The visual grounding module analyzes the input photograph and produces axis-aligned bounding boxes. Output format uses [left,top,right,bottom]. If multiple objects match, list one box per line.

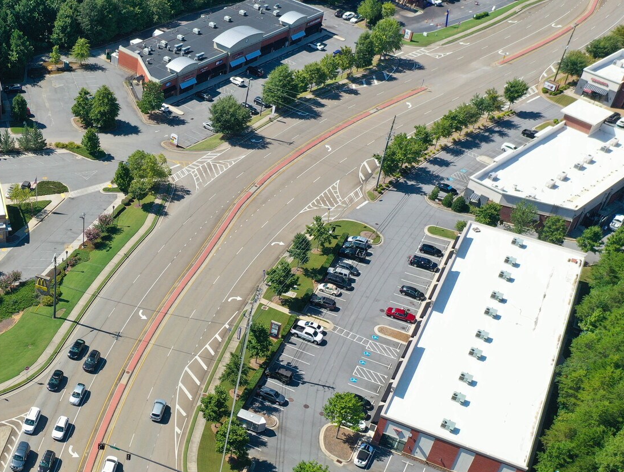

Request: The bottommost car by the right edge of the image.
[610,213,624,229]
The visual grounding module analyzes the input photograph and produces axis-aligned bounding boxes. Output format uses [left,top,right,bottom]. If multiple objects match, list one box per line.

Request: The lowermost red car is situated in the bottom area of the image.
[387,309,415,323]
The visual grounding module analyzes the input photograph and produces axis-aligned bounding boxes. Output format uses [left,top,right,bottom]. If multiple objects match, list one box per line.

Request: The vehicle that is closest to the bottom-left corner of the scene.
[13,442,30,470]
